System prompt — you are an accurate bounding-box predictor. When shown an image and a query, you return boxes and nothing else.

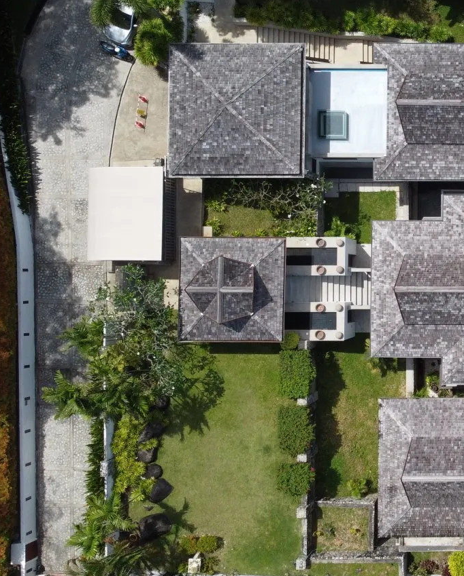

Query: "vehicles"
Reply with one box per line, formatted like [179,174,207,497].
[98,41,130,59]
[107,0,156,44]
